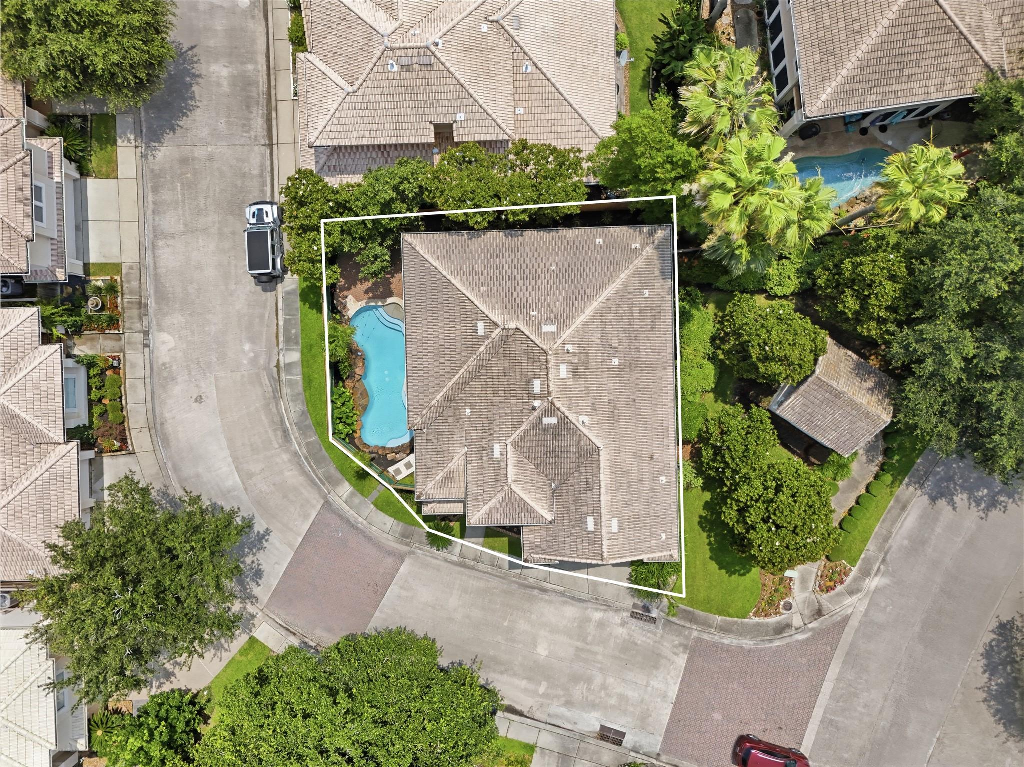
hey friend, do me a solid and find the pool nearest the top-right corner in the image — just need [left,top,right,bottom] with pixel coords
[753,147,916,205]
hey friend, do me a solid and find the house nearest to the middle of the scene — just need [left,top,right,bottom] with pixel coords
[400,223,681,566]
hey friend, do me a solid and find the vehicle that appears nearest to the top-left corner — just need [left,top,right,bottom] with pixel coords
[243,199,285,282]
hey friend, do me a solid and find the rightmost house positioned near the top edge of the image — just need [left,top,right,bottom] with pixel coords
[766,0,1024,137]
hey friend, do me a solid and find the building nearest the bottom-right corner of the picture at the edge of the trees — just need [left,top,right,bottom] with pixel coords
[769,337,899,460]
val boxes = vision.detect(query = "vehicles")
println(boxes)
[731,738,815,767]
[243,199,285,282]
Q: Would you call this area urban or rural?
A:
urban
